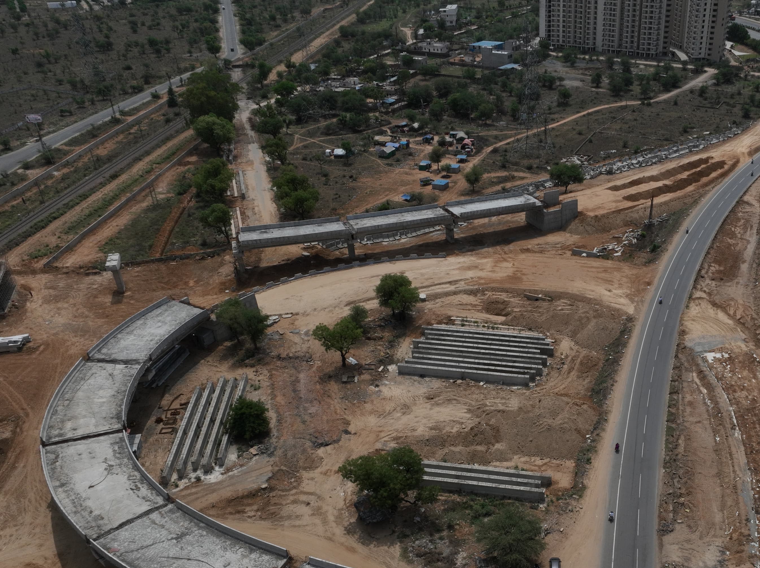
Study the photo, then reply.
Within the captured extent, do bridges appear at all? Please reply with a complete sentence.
Yes, the photo shows a bridge.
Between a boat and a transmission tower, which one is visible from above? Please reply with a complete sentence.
This aerial view contains a transmission tower.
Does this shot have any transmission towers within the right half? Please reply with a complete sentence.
Yes, within the right half there is a transmission tower.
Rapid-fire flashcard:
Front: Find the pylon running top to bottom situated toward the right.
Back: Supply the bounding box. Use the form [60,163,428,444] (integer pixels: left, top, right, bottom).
[512,30,554,165]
